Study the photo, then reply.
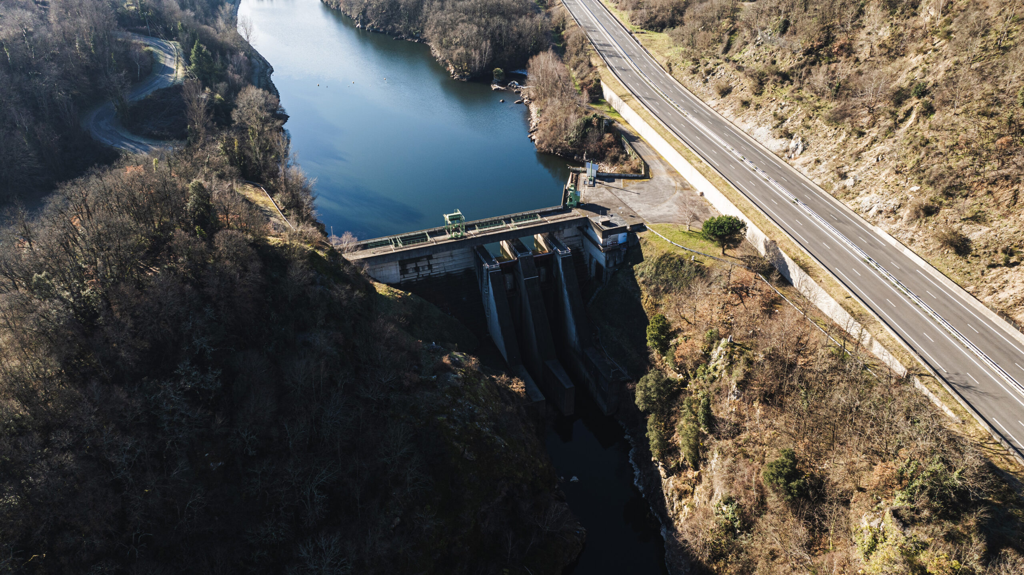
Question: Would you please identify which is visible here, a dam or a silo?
dam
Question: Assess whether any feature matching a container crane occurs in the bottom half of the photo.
No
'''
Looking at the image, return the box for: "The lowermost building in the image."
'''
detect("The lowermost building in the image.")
[579,212,644,283]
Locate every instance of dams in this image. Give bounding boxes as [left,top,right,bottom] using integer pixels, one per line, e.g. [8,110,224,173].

[326,204,621,425]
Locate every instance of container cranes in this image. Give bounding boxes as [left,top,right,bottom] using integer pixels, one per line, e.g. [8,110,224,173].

[441,207,467,239]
